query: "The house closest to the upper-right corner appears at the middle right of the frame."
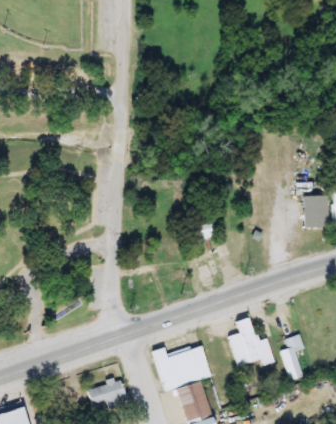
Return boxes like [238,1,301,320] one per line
[302,196,328,228]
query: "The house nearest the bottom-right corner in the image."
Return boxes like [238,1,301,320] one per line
[279,334,304,381]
